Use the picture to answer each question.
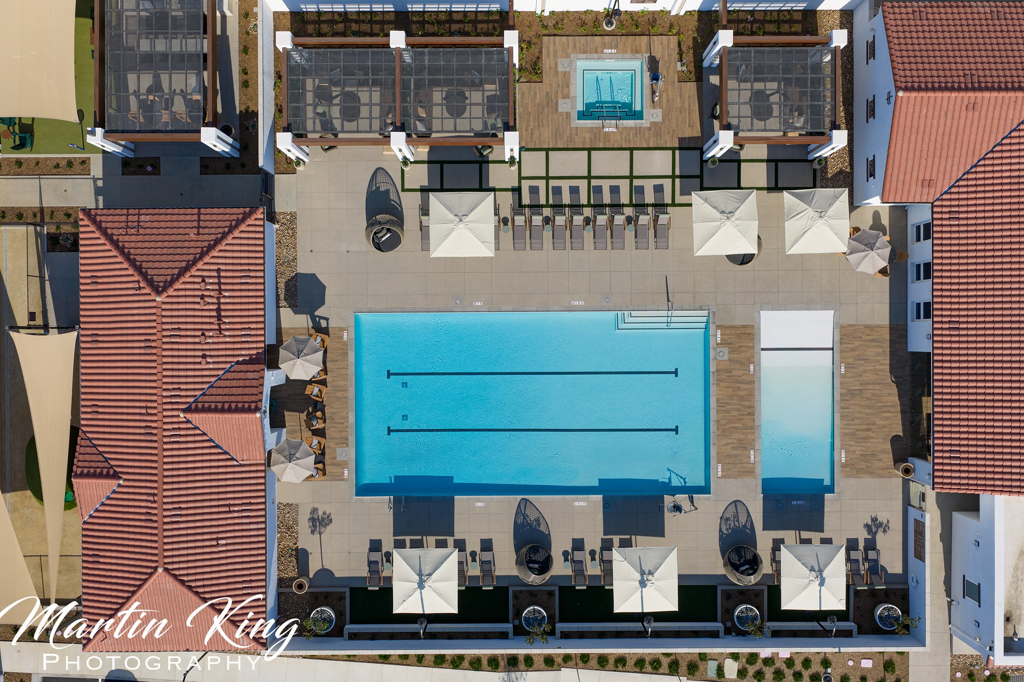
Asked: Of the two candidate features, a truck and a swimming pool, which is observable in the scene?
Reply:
swimming pool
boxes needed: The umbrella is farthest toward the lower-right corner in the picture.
[780,544,847,611]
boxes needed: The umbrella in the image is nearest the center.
[429,192,494,257]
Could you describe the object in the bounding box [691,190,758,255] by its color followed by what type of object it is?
white umbrella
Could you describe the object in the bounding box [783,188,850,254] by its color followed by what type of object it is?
white umbrella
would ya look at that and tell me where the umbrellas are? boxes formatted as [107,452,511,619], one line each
[393,548,458,614]
[612,546,679,613]
[691,190,758,255]
[429,192,494,257]
[270,438,316,484]
[279,336,323,380]
[783,188,850,254]
[844,228,892,275]
[780,544,847,611]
